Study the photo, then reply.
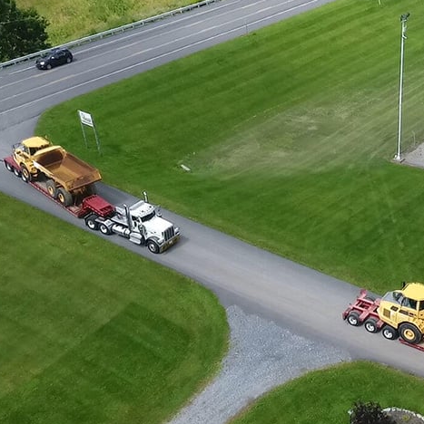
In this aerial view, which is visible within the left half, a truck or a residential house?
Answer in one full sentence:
Looking within the left half, you will find a truck.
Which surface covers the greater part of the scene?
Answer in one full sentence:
Most of the picture is covered by grass.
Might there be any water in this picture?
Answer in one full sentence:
No, there is no water in the image.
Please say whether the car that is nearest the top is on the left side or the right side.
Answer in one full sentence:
The car that is nearest the top sits on the left side.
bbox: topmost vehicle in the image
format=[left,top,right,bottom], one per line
[34,46,73,68]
